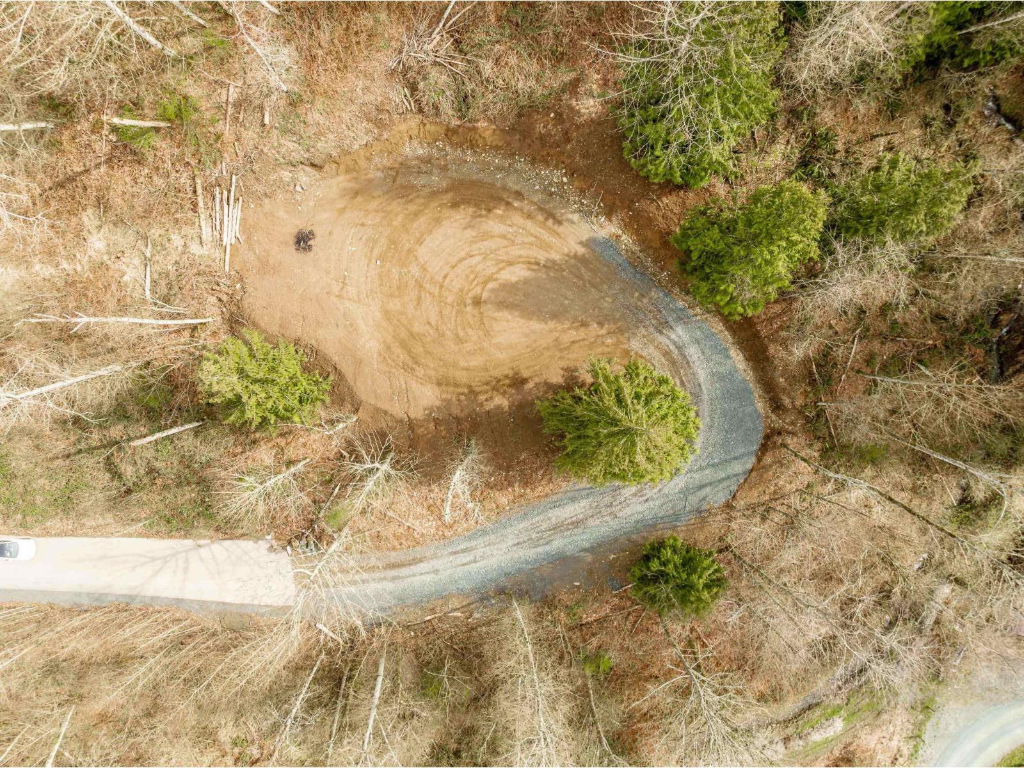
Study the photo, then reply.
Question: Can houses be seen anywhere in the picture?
No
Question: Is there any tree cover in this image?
Yes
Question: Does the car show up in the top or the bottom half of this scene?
bottom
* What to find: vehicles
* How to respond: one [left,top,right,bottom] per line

[0,540,32,569]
